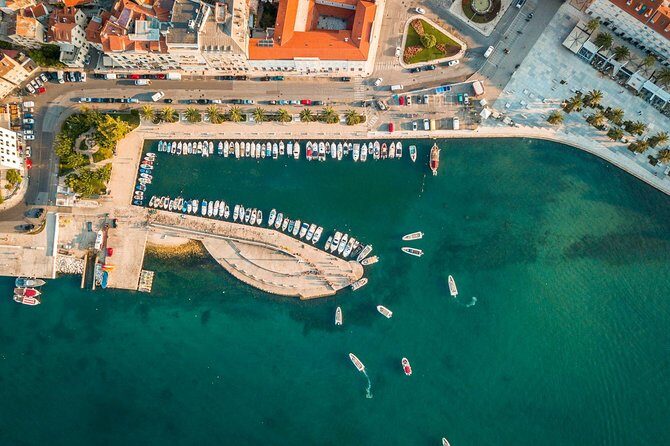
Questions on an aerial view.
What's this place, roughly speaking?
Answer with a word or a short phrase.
port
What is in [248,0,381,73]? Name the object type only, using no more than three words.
building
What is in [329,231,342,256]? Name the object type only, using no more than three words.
boat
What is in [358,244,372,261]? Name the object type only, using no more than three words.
boat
